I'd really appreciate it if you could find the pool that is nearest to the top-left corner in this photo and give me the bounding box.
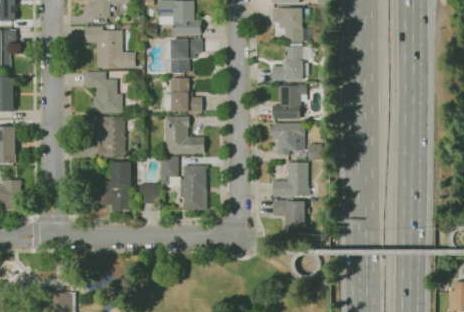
[149,45,163,71]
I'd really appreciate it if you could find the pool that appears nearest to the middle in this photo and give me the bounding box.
[144,161,159,182]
